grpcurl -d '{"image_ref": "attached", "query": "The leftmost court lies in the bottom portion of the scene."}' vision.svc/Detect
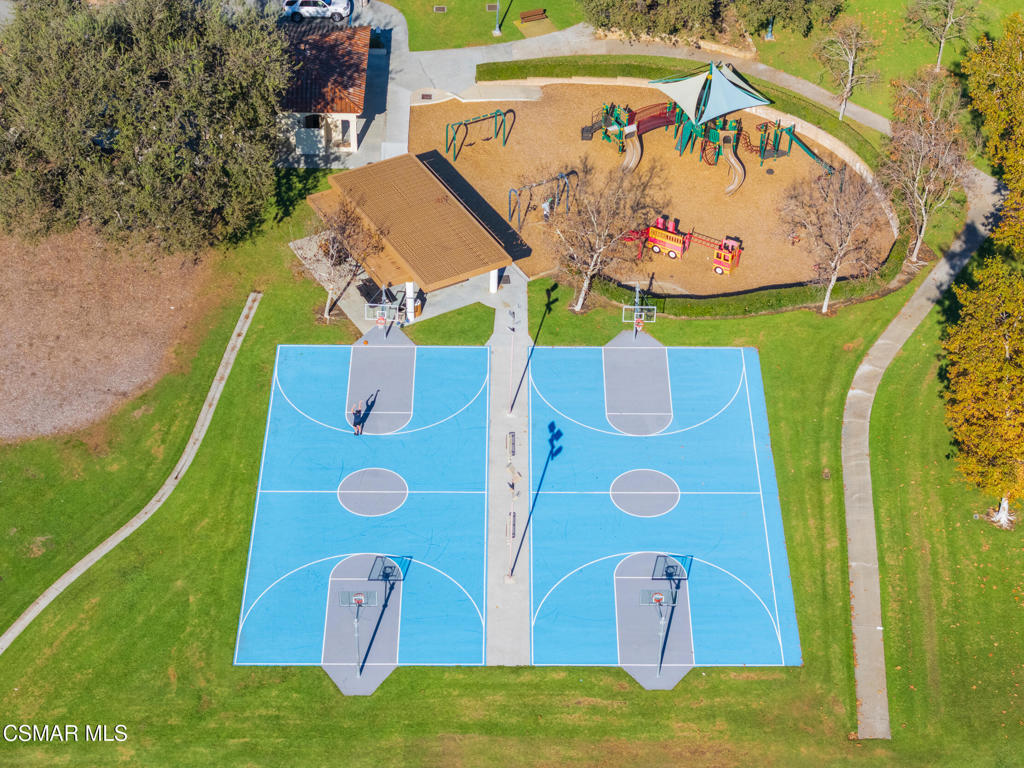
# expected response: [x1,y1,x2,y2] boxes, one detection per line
[233,325,491,696]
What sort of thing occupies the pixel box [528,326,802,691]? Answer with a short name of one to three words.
basketball court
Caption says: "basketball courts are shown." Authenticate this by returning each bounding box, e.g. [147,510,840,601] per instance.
[528,326,802,691]
[233,325,491,696]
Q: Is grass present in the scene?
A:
Yes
